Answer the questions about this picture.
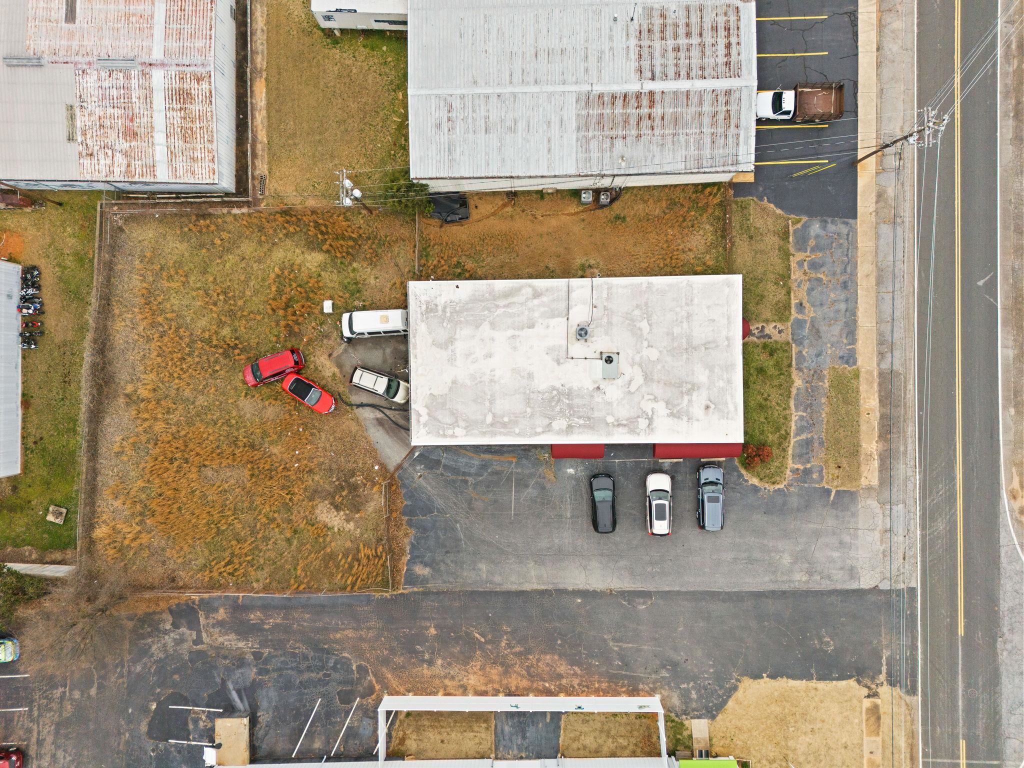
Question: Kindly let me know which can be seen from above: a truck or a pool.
truck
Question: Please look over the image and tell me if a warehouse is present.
Yes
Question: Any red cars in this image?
Yes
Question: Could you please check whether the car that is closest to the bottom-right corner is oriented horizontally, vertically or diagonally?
vertically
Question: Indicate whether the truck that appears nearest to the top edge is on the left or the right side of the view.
right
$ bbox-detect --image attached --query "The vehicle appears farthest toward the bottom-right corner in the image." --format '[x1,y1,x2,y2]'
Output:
[694,464,728,532]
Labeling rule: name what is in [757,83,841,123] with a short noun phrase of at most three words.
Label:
truck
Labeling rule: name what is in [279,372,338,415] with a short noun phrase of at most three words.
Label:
car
